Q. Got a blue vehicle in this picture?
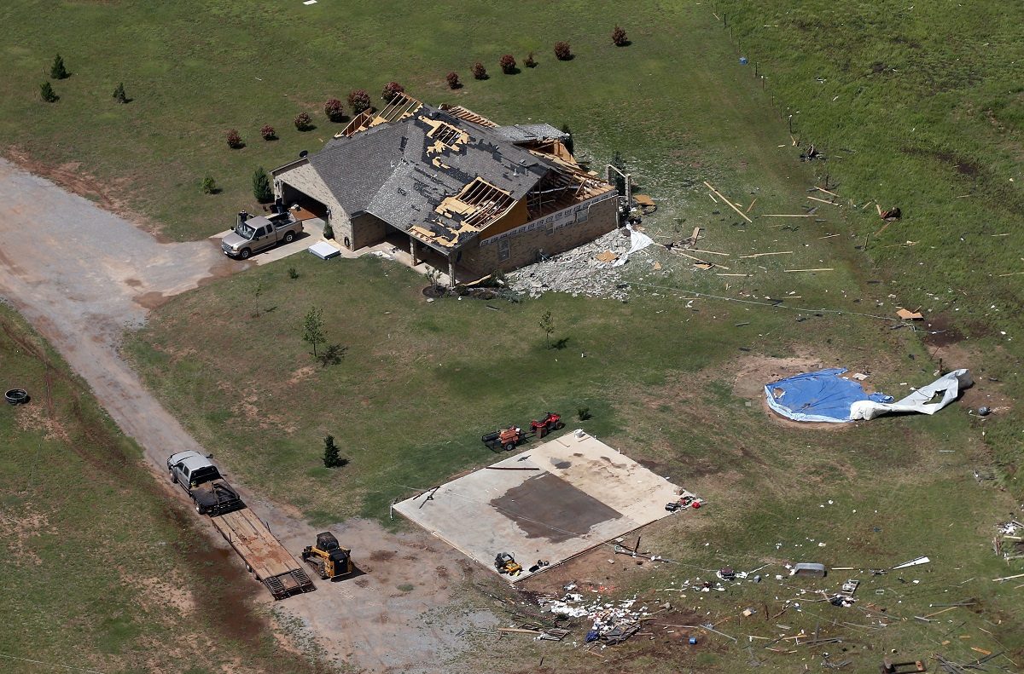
No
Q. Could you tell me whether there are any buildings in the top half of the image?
Yes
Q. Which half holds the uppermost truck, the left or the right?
left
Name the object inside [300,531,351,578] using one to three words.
work vehicle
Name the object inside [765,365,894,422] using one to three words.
swimming pool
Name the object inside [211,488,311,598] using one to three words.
trailer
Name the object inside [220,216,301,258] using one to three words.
truck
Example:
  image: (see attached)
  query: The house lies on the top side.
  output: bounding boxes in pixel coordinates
[266,91,620,286]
